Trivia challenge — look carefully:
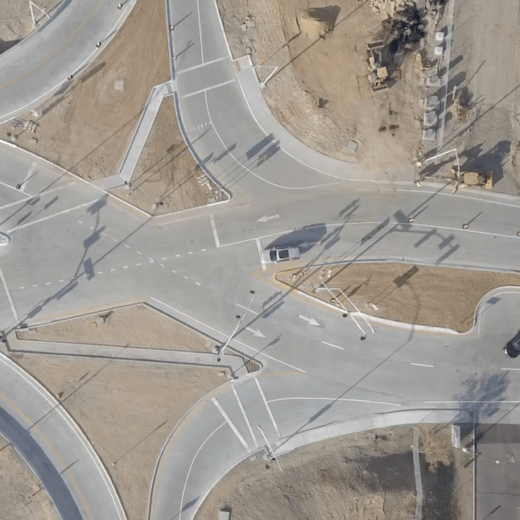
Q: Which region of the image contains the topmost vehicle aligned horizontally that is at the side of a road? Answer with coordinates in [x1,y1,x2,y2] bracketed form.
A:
[419,165,499,194]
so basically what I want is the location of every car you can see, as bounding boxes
[259,246,299,265]
[501,331,520,359]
